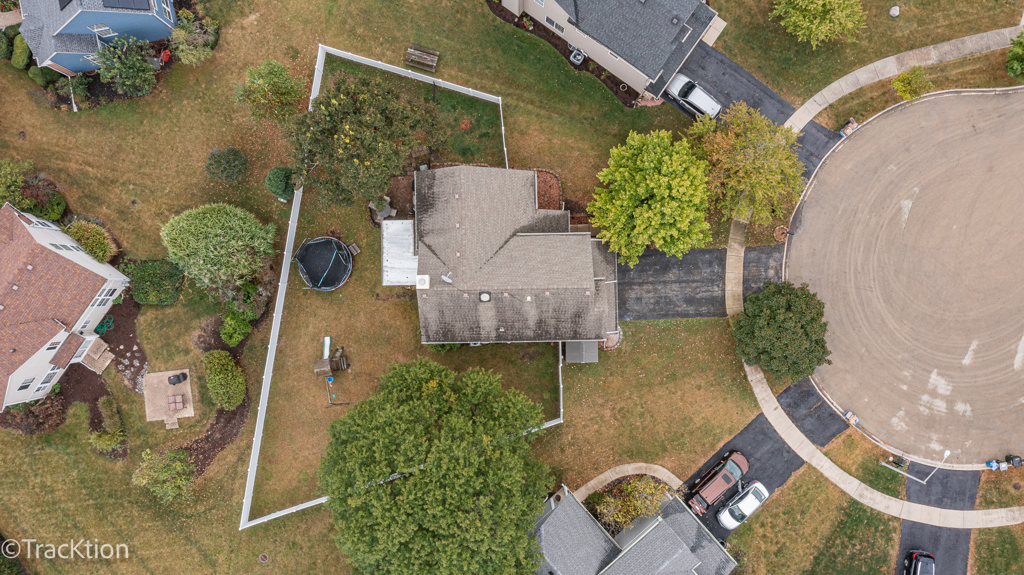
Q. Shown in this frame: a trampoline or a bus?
trampoline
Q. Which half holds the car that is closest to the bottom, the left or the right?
right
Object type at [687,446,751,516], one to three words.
car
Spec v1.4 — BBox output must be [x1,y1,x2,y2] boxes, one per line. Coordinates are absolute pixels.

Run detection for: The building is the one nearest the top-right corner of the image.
[500,0,719,107]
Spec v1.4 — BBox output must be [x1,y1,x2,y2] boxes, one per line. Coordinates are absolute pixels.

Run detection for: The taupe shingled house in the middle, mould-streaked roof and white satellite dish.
[413,165,620,348]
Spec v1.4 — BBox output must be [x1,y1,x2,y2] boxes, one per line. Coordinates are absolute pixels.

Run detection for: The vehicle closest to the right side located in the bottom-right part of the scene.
[904,553,935,575]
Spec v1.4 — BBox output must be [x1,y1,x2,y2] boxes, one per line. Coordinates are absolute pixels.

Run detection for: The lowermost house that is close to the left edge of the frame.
[0,201,130,413]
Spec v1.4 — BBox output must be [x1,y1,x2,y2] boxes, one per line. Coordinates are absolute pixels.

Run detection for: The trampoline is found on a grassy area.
[291,236,355,293]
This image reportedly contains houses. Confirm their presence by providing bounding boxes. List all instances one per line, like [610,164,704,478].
[413,165,620,348]
[500,0,719,107]
[16,0,176,78]
[0,201,130,413]
[526,486,739,575]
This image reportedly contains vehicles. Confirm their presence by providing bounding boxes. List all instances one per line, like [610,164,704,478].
[717,481,771,531]
[669,73,725,120]
[904,553,935,575]
[687,446,751,516]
